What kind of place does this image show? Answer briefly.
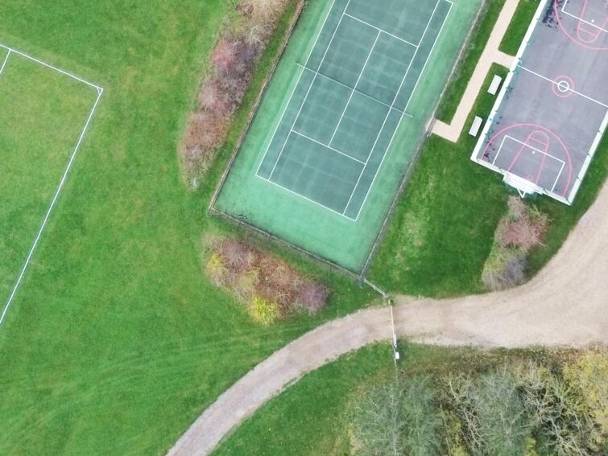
sports ground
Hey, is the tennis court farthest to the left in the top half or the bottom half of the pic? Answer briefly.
top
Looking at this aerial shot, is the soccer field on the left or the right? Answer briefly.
left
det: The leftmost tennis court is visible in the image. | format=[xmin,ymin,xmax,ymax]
[214,0,483,271]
